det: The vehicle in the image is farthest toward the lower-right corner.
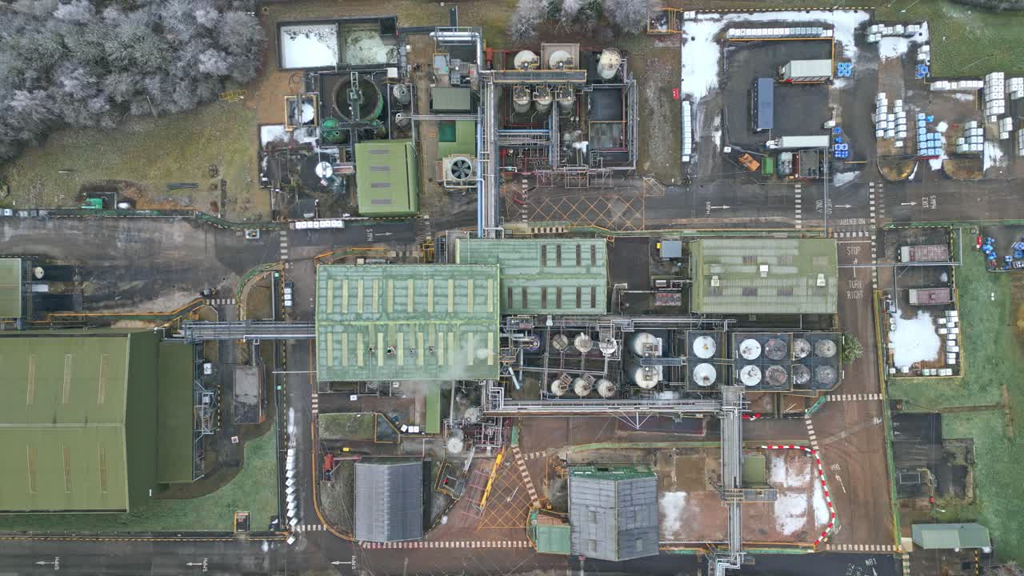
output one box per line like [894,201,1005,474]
[905,288,953,305]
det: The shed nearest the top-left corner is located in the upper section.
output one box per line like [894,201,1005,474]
[81,191,120,209]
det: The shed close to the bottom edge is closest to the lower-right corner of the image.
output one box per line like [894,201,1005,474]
[905,520,991,549]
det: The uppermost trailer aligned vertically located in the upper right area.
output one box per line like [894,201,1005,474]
[750,78,774,136]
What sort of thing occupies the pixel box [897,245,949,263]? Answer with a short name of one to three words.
vehicle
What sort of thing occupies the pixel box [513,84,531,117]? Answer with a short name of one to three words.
silo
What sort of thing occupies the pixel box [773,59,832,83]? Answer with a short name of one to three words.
truck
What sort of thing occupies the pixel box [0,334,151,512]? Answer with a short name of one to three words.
warehouse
